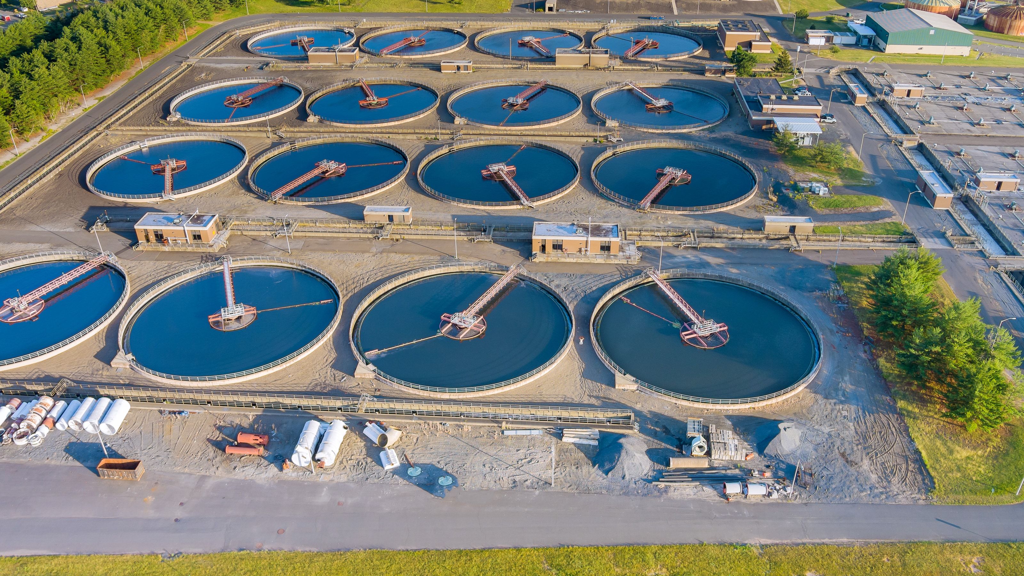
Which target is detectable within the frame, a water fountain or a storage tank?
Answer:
storage tank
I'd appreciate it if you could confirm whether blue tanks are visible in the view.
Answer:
Yes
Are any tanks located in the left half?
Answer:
Yes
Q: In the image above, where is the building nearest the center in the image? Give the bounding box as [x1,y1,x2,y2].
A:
[532,216,619,255]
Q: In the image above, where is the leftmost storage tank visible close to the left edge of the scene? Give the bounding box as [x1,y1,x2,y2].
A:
[0,251,131,372]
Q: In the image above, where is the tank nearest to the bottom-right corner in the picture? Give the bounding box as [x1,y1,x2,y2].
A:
[589,264,823,410]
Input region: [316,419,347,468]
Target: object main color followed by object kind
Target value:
white storage tank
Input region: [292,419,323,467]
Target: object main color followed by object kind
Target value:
white storage tank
